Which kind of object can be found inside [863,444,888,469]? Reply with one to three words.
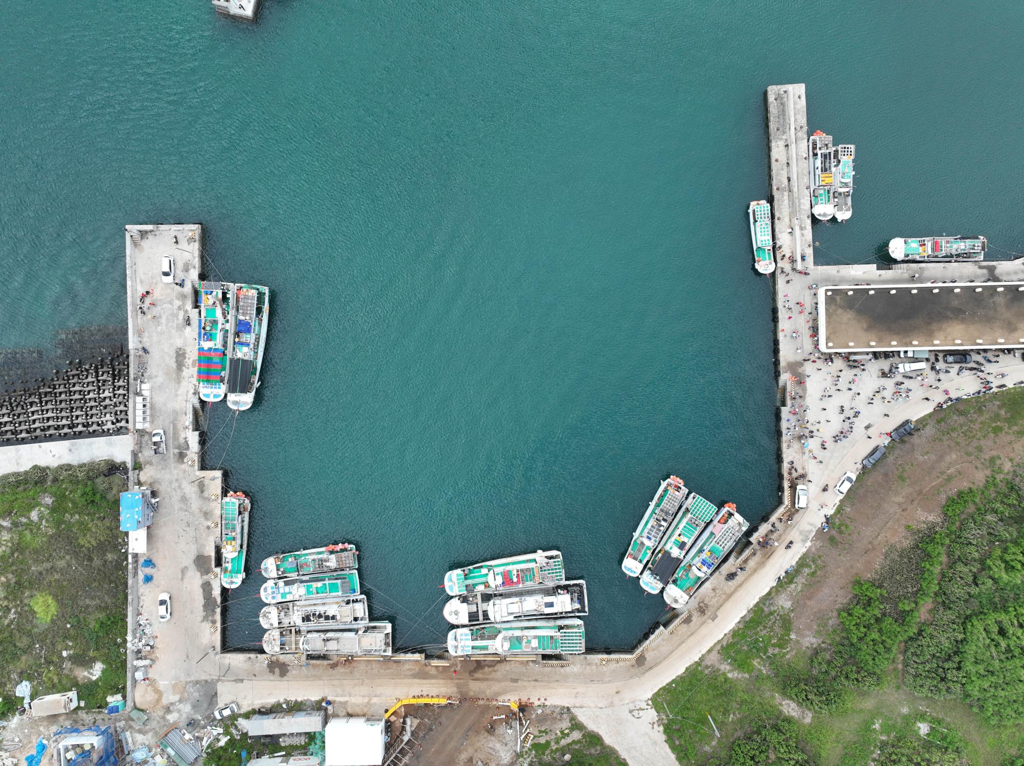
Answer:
car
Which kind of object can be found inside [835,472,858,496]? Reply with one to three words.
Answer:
car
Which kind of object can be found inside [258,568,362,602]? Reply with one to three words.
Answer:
boat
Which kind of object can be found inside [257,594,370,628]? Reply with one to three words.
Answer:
boat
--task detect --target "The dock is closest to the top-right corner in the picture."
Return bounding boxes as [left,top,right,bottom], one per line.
[764,83,813,270]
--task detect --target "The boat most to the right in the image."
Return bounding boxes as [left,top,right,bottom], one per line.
[876,233,986,262]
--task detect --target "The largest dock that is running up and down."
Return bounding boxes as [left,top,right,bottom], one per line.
[126,223,226,714]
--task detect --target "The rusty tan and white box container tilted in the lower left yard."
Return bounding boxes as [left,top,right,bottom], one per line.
[31,691,80,717]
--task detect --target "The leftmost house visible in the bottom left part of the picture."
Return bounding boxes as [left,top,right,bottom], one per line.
[52,727,118,766]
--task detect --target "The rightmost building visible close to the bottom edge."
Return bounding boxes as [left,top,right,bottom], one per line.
[323,716,385,766]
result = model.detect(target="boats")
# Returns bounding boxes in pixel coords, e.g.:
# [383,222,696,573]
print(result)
[666,507,751,612]
[217,496,251,591]
[261,620,393,656]
[258,543,360,579]
[440,550,565,595]
[258,568,362,602]
[833,145,859,230]
[224,284,271,415]
[807,135,835,229]
[442,579,588,625]
[622,478,689,580]
[447,618,584,658]
[641,493,719,598]
[876,233,986,262]
[197,281,236,408]
[747,202,779,282]
[257,594,370,628]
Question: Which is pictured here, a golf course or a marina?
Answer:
marina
